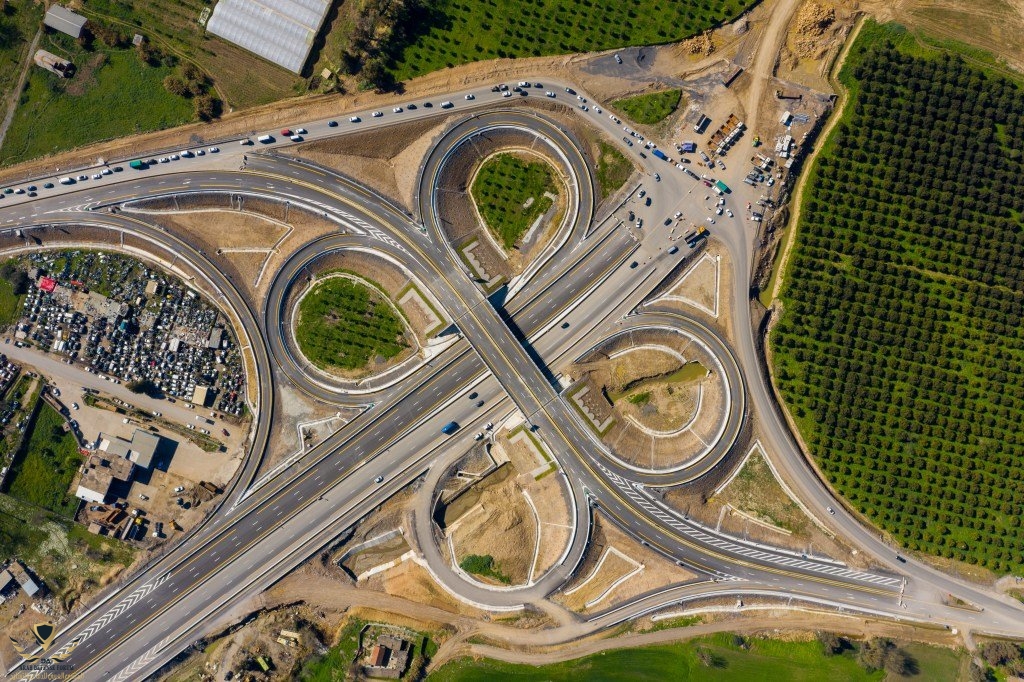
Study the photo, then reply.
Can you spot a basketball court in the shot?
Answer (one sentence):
No, the frame has no basketball court in it.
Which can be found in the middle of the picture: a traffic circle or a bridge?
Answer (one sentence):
The one visible in the middle of the picture is a bridge.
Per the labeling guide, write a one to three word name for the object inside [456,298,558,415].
bridge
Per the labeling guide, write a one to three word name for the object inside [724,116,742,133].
vehicle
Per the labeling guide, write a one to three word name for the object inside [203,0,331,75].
greenhouse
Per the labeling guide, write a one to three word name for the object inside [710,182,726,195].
vehicle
